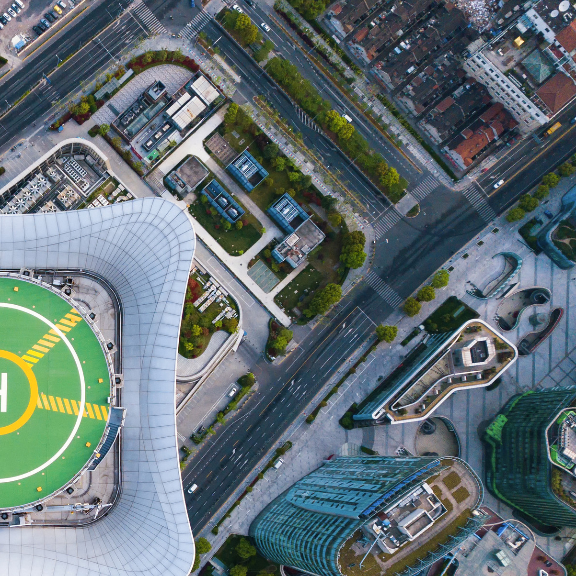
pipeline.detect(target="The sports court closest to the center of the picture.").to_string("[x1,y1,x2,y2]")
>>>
[248,259,280,292]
